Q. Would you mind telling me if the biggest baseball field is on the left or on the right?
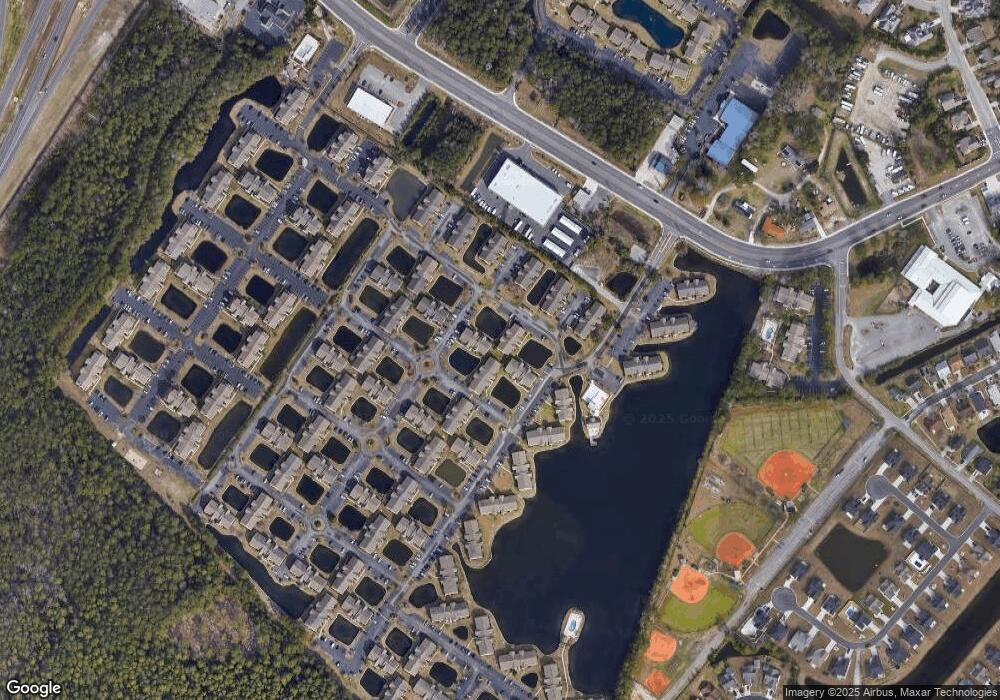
right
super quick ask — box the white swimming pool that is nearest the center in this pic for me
[582,381,609,413]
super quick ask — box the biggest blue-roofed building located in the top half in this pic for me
[707,87,754,164]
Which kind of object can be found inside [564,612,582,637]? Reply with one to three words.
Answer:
swimming pool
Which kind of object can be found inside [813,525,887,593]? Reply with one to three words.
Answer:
pond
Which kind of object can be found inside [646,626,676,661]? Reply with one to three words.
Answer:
baseball field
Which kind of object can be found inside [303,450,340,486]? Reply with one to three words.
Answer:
building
